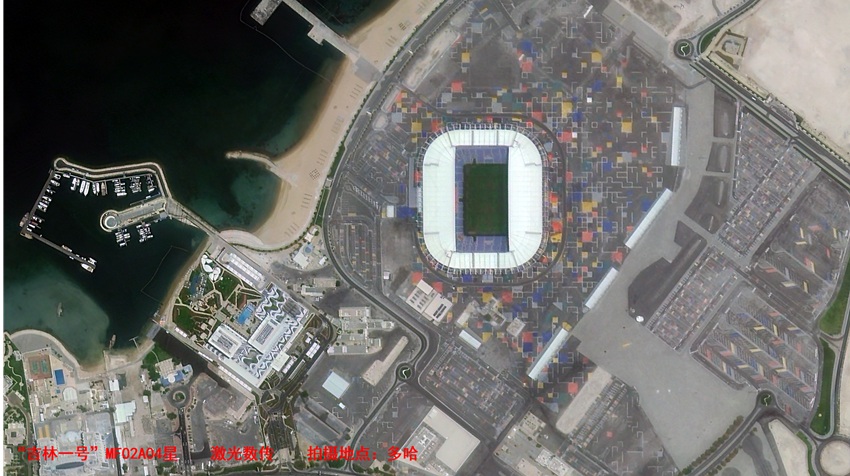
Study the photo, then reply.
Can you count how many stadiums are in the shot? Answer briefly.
1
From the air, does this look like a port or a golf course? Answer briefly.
port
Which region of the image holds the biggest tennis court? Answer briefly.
bottom left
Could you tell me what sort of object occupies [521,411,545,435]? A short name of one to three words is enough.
building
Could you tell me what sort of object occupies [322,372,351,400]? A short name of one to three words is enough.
shed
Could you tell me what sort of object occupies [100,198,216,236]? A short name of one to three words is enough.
pier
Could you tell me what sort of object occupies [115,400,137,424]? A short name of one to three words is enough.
building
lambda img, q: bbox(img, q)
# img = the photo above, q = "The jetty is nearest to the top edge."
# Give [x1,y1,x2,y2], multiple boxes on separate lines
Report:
[251,0,362,60]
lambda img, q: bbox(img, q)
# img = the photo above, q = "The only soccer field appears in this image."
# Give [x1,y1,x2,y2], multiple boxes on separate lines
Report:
[463,160,509,239]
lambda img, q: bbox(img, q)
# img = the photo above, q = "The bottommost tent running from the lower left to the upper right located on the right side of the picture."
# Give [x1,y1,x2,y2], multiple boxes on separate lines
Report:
[529,328,569,380]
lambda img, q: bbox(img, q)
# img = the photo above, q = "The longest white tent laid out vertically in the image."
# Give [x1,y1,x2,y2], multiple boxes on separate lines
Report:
[672,107,685,166]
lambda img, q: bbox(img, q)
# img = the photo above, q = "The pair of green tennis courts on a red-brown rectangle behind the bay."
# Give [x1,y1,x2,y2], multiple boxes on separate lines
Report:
[29,355,51,380]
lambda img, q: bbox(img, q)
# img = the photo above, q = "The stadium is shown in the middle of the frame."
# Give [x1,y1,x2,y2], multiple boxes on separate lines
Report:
[417,121,553,276]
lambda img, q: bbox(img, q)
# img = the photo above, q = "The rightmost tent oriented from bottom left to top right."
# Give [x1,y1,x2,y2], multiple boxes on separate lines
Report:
[625,188,672,248]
